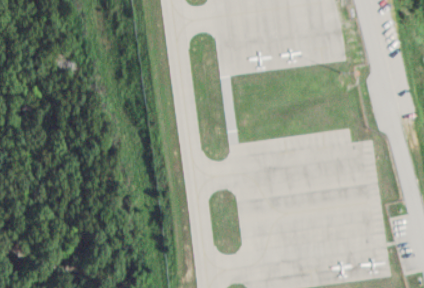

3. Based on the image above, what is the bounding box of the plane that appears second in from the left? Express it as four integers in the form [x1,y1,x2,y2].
[280,48,302,64]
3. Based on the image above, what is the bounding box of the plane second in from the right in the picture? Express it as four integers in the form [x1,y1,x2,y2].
[330,261,353,278]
